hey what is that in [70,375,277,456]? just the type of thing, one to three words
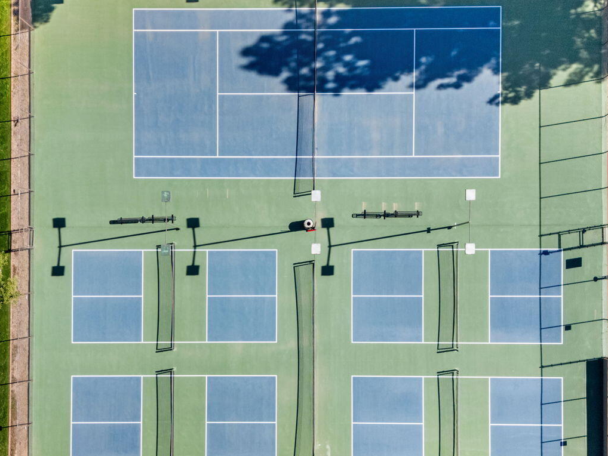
sports court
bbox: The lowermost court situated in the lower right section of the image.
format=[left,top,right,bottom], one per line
[351,376,564,456]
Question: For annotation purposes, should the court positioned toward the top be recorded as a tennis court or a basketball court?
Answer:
tennis court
